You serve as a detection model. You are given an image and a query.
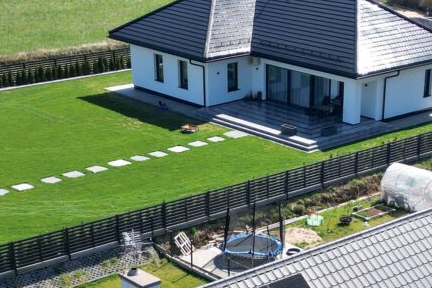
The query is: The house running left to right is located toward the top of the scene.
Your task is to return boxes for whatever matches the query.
[107,0,432,151]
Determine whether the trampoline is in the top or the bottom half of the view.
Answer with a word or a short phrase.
bottom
